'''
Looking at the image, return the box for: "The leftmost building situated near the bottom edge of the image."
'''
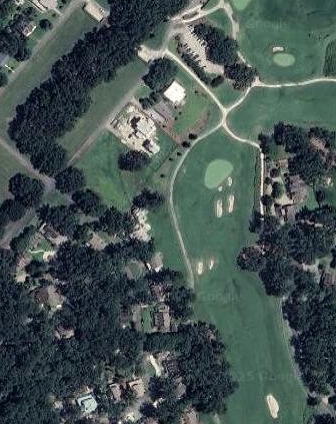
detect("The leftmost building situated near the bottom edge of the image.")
[75,390,99,413]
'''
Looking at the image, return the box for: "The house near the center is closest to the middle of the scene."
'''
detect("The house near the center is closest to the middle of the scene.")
[130,207,151,243]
